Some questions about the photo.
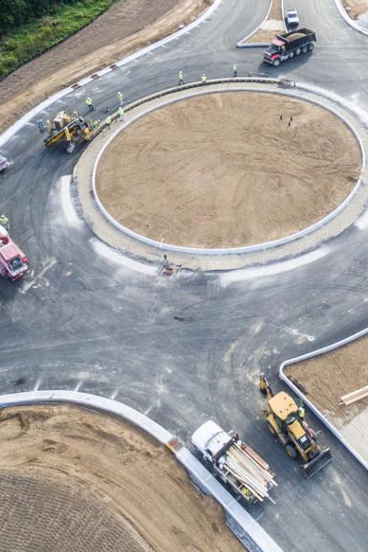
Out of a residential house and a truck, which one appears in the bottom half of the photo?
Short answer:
truck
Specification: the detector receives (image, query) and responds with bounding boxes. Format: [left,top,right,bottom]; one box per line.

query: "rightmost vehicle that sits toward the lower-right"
[258,374,335,479]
